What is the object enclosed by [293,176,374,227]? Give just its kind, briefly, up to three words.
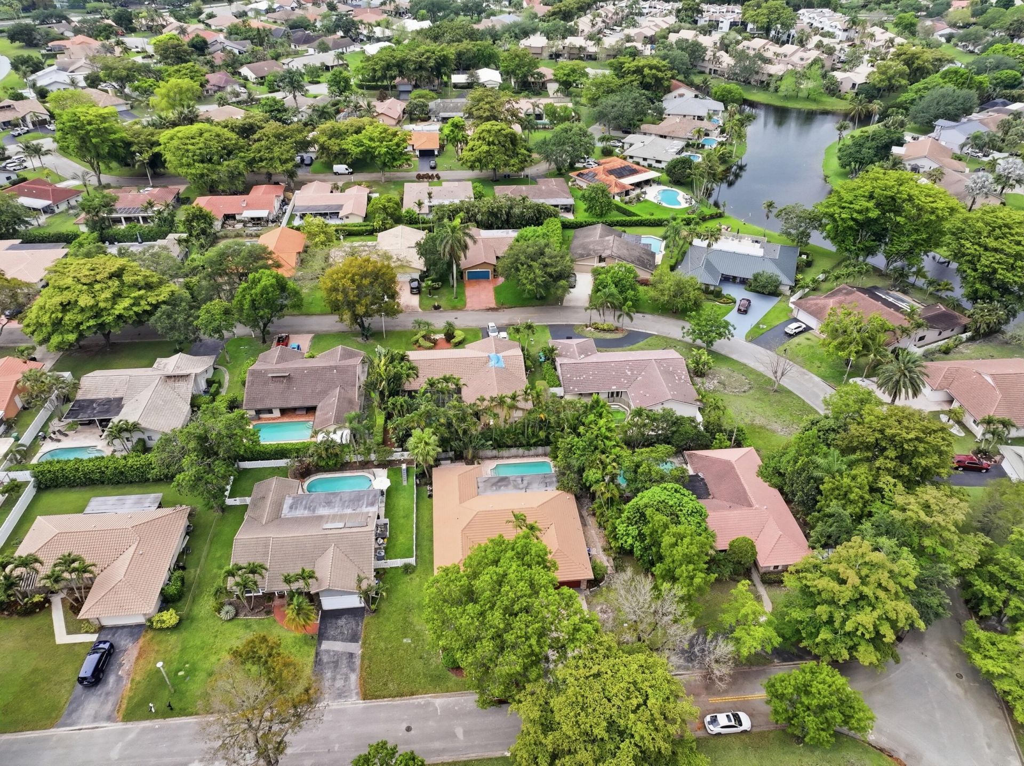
house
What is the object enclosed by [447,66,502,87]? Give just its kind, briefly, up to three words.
house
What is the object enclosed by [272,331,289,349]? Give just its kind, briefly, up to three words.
vehicle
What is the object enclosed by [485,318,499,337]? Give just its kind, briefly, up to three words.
car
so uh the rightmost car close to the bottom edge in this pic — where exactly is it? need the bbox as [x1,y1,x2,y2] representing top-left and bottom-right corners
[704,708,755,736]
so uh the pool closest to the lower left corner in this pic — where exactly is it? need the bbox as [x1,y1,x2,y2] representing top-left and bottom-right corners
[32,443,112,464]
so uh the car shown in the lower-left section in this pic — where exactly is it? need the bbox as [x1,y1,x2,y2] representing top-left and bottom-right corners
[74,640,112,682]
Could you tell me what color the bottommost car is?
white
